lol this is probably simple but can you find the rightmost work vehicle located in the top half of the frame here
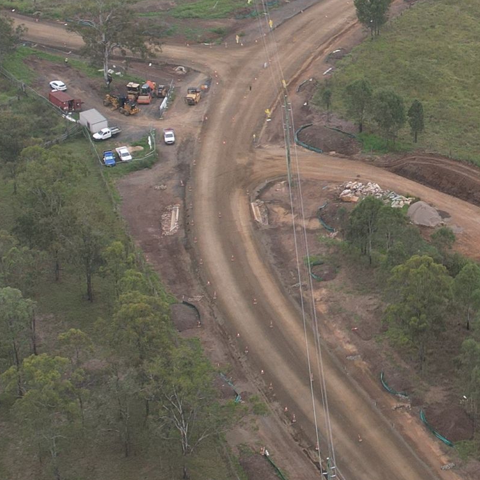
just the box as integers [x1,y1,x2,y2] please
[184,83,201,102]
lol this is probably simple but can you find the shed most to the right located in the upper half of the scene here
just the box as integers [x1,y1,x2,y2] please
[78,109,107,134]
